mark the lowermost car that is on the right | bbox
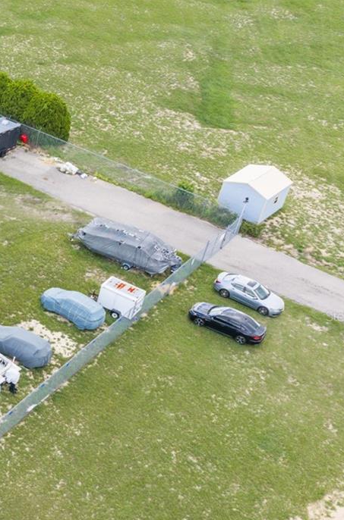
[189,301,270,345]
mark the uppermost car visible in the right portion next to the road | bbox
[214,271,288,317]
